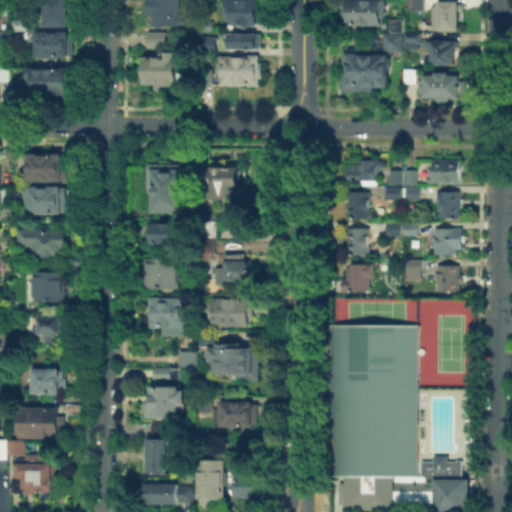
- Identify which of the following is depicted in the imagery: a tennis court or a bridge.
tennis court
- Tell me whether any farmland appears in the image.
No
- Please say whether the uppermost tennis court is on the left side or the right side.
right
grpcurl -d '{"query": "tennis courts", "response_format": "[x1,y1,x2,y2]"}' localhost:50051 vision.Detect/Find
[419,300,470,386]
[335,298,418,324]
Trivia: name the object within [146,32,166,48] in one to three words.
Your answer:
building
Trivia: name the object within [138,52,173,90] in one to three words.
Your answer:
house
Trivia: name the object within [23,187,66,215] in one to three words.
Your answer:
house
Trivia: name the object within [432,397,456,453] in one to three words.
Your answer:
swimming pool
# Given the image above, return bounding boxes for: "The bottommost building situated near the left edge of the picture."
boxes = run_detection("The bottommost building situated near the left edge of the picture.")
[13,464,50,498]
